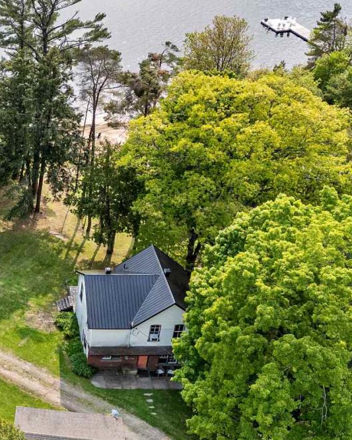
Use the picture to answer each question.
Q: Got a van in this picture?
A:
No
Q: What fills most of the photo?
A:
trees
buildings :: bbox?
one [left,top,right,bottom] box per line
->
[13,405,127,440]
[73,243,203,365]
